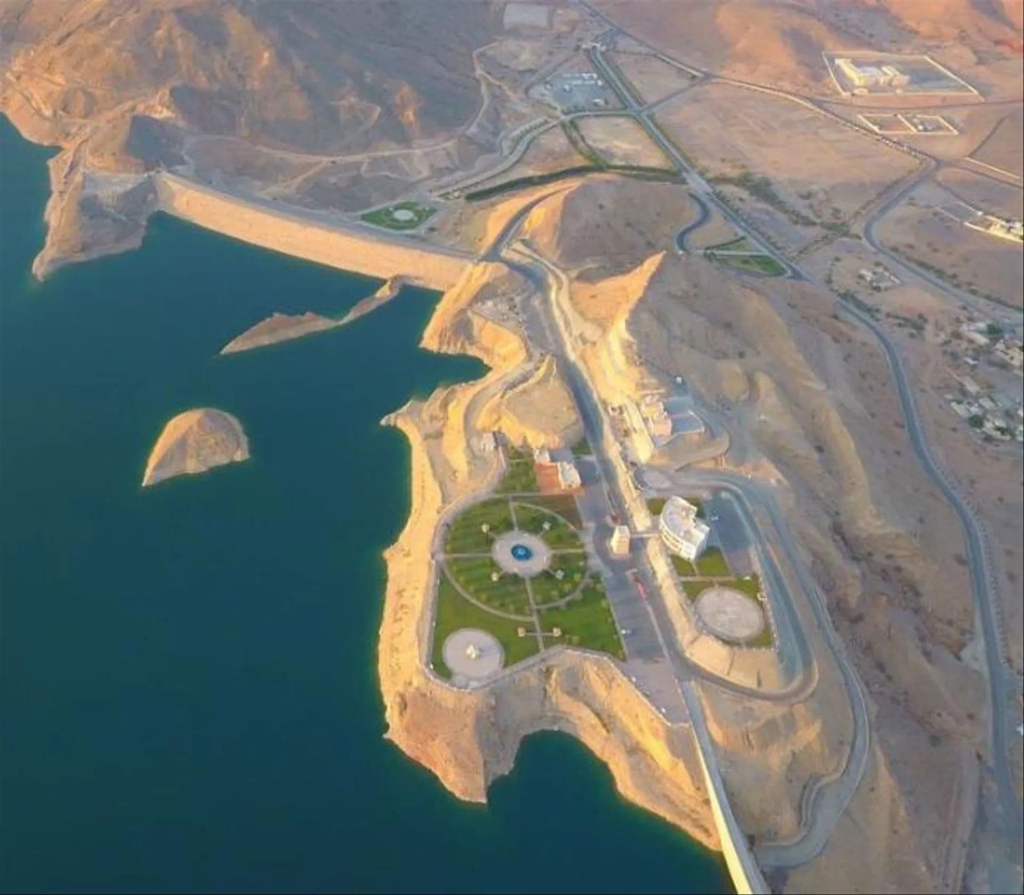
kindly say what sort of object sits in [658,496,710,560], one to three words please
building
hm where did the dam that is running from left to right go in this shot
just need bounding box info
[159,171,476,289]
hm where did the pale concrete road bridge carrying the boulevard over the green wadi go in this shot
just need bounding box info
[678,167,719,200]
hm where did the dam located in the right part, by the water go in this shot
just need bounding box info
[694,727,772,895]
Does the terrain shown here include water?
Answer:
Yes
